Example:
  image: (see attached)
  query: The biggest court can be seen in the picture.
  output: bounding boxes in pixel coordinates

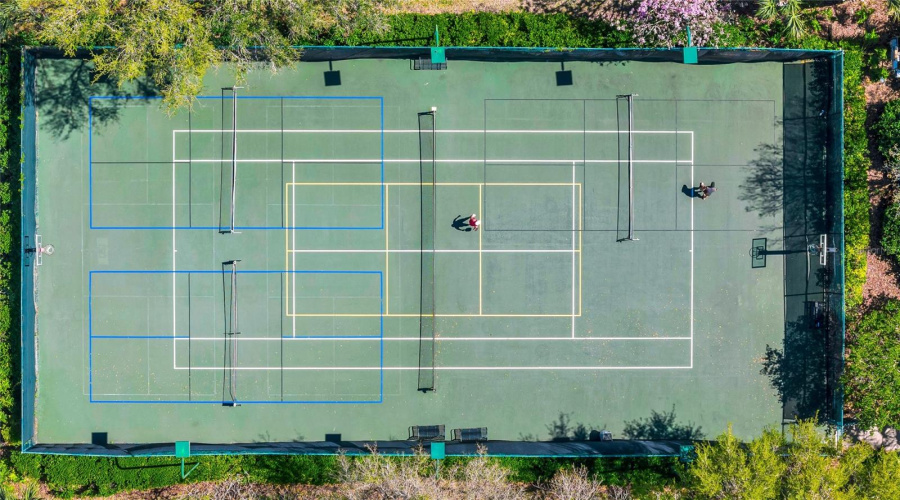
[38,57,829,446]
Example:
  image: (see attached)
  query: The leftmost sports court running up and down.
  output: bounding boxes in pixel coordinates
[82,106,214,395]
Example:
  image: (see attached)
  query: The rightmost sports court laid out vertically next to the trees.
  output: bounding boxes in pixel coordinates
[266,106,400,395]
